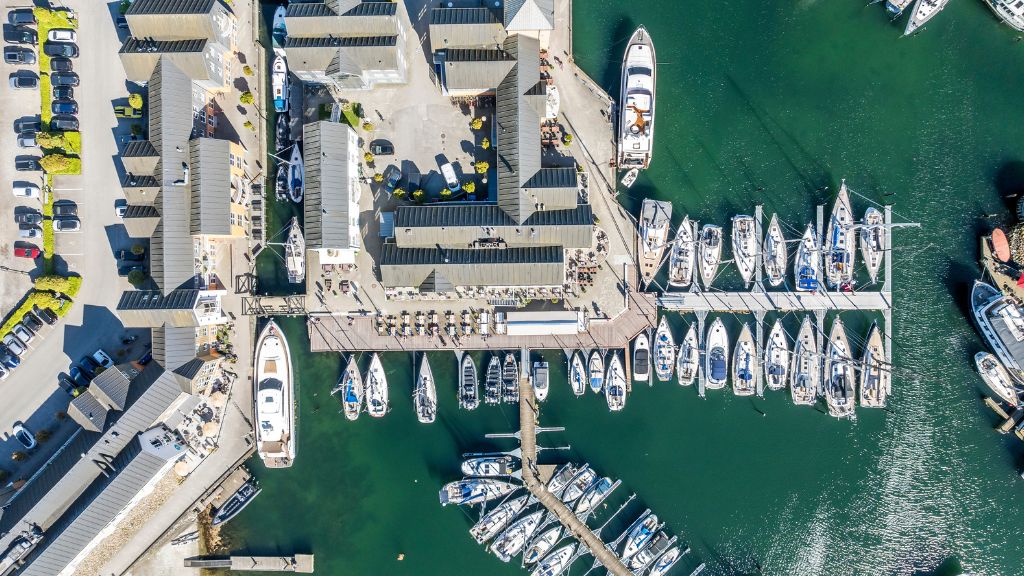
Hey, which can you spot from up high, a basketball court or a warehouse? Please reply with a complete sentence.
The one in the frame is a warehouse.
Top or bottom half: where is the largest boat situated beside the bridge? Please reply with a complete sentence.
The largest boat situated beside the bridge is in the bottom half of the image.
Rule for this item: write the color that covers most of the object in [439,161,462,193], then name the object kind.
white vehicle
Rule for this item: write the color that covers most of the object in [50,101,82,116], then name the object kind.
blue car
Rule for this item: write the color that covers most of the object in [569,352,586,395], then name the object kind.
white boat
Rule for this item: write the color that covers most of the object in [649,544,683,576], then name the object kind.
white boat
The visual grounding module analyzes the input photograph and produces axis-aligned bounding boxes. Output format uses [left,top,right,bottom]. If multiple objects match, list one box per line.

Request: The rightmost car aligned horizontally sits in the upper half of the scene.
[368,141,397,155]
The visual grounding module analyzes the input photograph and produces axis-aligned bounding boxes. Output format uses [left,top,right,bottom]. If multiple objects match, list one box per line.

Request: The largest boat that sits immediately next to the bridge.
[253,320,297,470]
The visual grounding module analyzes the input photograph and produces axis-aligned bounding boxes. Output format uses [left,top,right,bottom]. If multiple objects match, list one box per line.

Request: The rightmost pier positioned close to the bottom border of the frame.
[461,350,705,576]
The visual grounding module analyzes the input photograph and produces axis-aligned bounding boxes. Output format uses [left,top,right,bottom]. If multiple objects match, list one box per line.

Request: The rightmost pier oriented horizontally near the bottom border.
[182,553,315,574]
